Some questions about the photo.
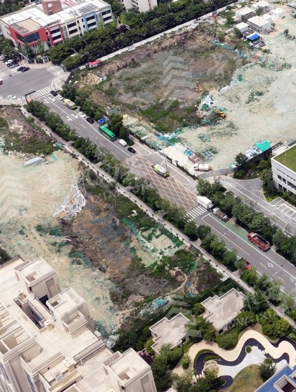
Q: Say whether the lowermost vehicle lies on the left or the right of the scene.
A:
right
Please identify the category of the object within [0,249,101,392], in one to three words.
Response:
building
